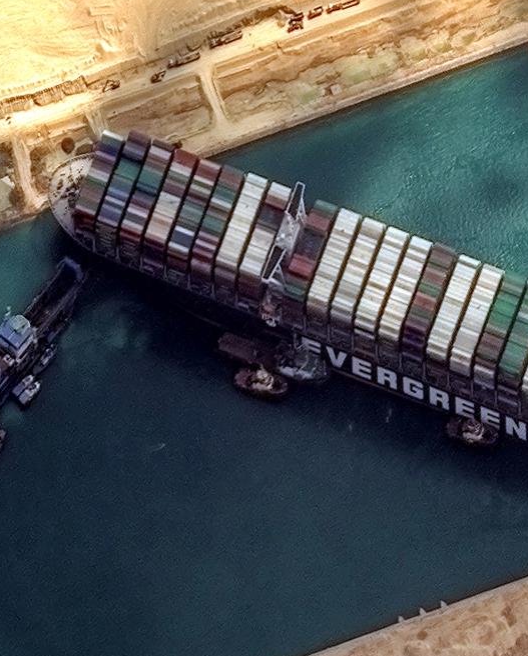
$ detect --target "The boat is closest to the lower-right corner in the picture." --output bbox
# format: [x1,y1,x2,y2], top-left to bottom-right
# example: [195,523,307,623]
[447,420,497,450]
